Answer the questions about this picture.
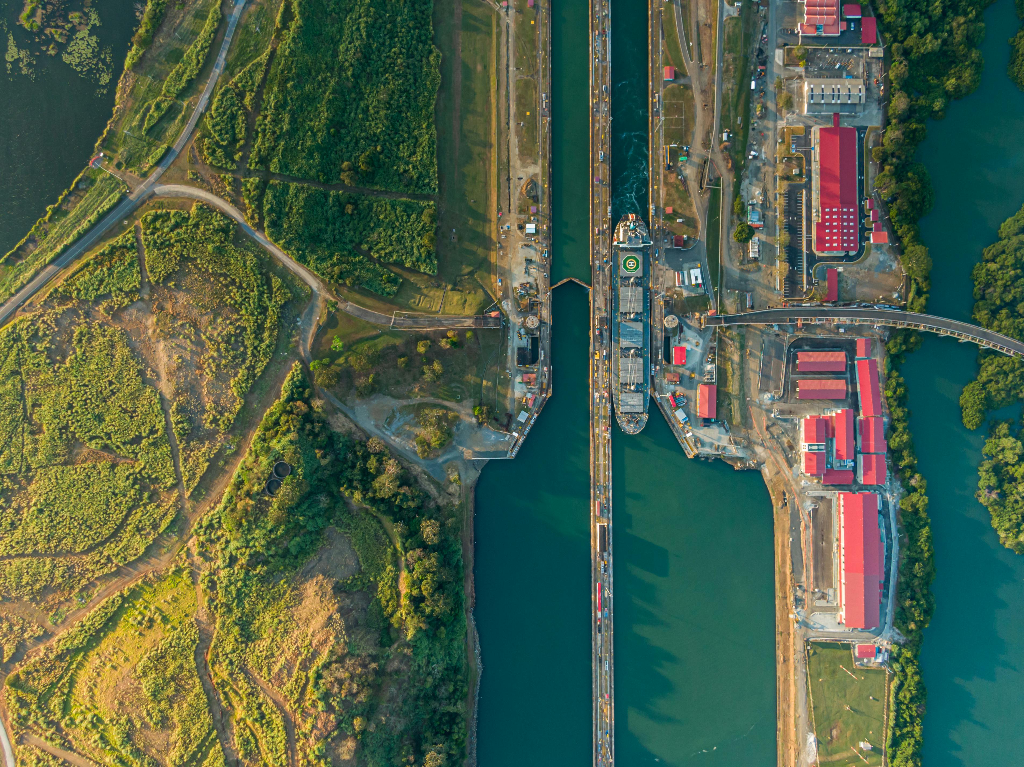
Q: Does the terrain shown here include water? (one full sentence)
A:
Yes, there is water in the image.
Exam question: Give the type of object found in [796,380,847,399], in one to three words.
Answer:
building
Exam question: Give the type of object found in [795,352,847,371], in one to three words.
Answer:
building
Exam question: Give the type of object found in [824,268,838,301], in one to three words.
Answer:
shed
